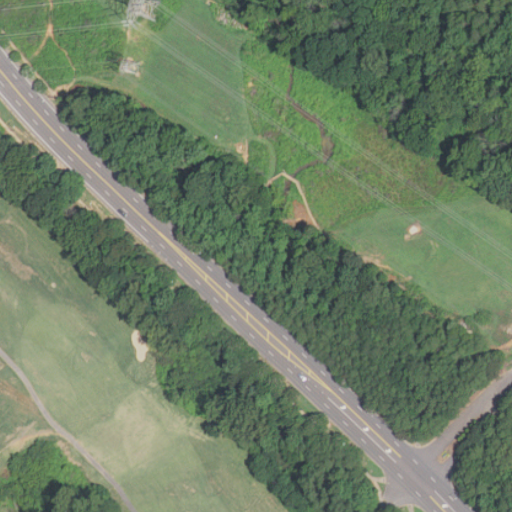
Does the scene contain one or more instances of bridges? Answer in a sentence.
No, no bridge is visible in the scene.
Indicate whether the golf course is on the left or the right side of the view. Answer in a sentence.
The golf course appears in the left half of the scene.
